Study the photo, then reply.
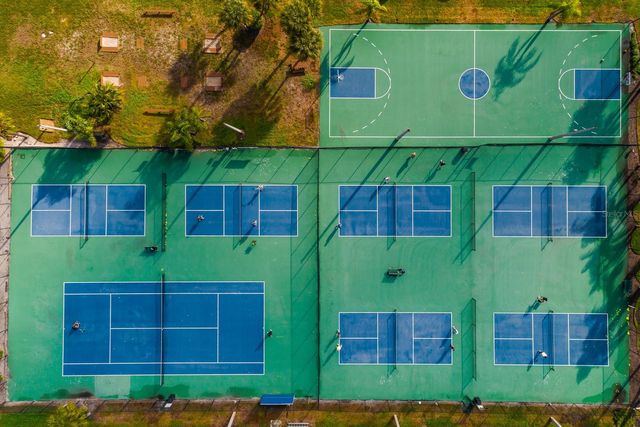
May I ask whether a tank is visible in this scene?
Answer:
No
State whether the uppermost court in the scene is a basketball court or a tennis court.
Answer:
basketball court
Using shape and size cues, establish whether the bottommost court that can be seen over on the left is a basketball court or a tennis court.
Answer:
tennis court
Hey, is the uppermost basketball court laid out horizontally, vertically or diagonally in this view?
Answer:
horizontally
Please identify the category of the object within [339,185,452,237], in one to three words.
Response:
sports court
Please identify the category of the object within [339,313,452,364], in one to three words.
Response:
sports court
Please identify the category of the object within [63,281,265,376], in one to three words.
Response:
tennis court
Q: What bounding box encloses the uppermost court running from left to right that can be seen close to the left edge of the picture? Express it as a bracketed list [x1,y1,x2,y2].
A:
[31,184,145,236]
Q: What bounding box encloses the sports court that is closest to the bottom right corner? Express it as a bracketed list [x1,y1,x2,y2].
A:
[494,313,609,366]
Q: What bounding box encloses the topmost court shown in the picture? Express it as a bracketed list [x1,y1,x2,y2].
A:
[329,29,621,137]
